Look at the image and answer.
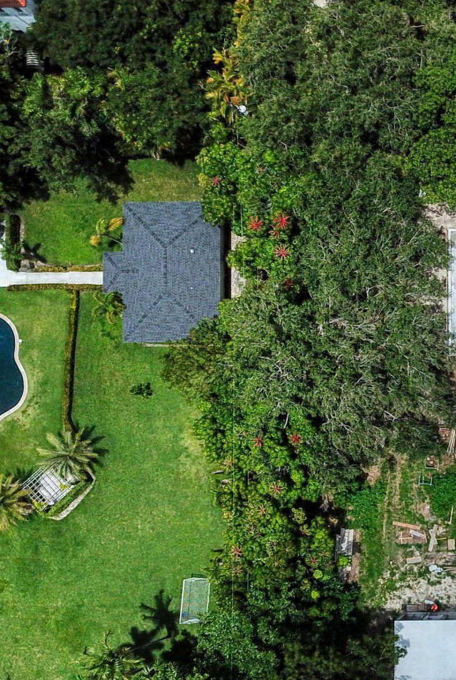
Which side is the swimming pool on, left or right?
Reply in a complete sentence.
The swimming pool is on the left side of the image.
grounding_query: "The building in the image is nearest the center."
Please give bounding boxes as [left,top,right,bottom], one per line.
[102,200,231,347]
